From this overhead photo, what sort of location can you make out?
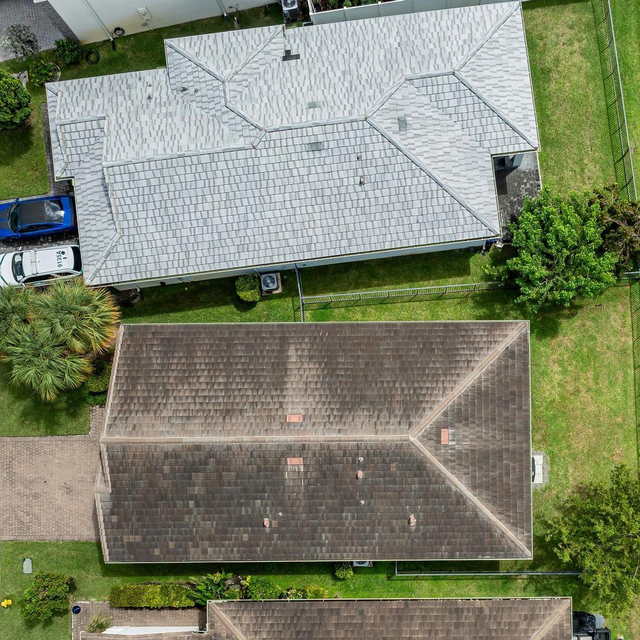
residential area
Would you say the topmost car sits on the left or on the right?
left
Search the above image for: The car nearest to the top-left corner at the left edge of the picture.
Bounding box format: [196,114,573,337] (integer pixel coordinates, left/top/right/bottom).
[0,195,79,243]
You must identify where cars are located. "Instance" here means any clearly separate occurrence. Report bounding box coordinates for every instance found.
[0,239,84,288]
[0,195,79,243]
